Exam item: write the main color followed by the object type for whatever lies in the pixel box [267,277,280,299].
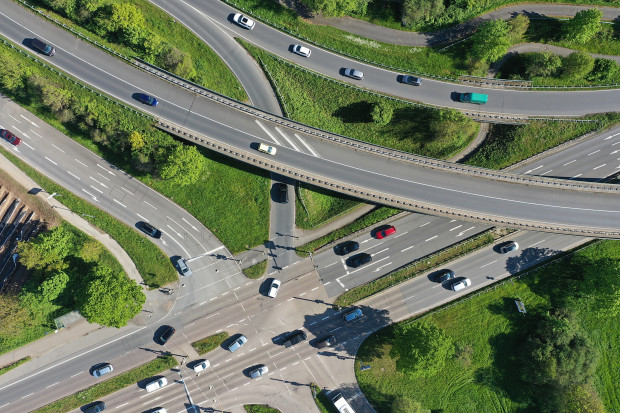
white vehicle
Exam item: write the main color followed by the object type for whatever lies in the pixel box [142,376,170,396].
white vehicle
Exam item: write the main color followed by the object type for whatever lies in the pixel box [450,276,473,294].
white car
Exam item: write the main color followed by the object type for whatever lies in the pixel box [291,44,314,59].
white car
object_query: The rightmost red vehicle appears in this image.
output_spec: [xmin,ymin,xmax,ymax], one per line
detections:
[374,224,398,240]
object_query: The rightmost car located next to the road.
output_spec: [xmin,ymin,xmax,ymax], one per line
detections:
[498,240,520,256]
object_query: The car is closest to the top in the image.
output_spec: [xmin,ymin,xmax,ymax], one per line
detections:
[232,12,257,31]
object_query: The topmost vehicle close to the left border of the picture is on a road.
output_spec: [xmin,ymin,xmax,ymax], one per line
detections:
[27,35,57,58]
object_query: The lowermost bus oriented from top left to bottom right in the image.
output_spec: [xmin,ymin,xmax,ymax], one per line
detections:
[329,387,359,413]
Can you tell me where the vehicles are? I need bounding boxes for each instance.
[93,363,114,378]
[348,253,372,268]
[329,387,359,413]
[458,91,492,105]
[84,401,108,413]
[142,376,170,396]
[27,35,57,58]
[267,277,280,299]
[248,364,269,380]
[191,358,213,375]
[374,224,398,240]
[343,67,366,81]
[337,240,361,257]
[175,257,193,278]
[277,183,289,203]
[232,12,257,31]
[157,325,177,345]
[450,276,473,294]
[140,220,163,240]
[314,334,337,350]
[498,240,520,256]
[400,74,423,87]
[282,330,308,351]
[291,44,314,59]
[434,269,456,285]
[136,91,160,108]
[0,127,22,147]
[227,334,248,354]
[148,406,168,413]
